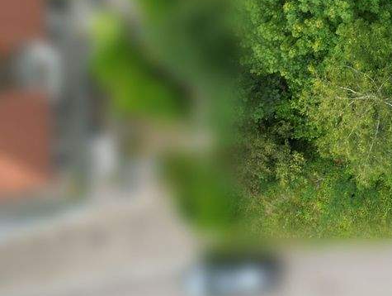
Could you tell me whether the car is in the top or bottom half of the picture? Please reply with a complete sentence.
The car sits in the bottom half of the picture.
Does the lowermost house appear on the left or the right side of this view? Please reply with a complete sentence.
The lowermost house is on the left side of the image.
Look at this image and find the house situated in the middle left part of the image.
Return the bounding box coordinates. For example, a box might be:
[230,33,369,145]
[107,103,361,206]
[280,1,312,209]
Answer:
[0,80,100,197]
